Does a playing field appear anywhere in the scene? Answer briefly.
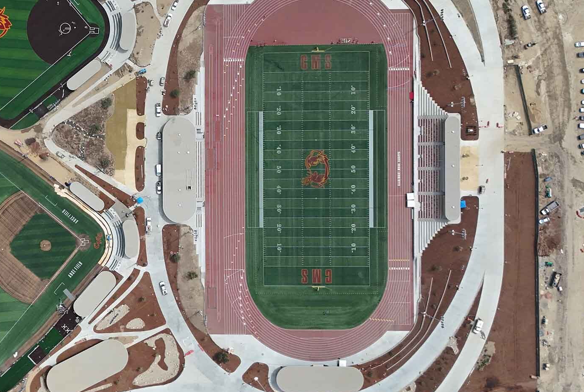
Yes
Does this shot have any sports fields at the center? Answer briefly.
Yes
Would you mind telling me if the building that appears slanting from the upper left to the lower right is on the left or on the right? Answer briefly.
left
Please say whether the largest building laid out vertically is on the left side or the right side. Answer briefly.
left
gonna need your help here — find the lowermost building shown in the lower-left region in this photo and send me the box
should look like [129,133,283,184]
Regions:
[45,340,129,392]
